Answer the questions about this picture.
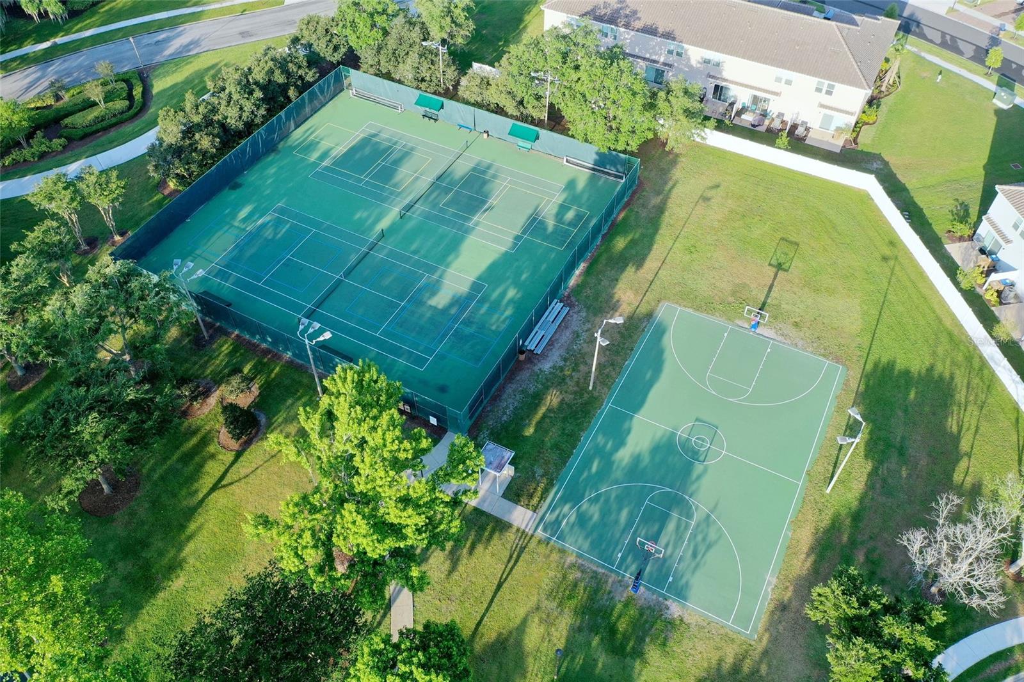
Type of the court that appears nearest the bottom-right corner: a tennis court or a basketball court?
basketball court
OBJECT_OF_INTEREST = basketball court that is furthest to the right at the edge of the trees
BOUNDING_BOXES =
[528,298,849,641]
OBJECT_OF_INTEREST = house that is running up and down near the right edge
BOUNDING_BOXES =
[974,183,1024,305]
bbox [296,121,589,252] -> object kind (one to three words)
tennis court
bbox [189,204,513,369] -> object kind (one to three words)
tennis court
